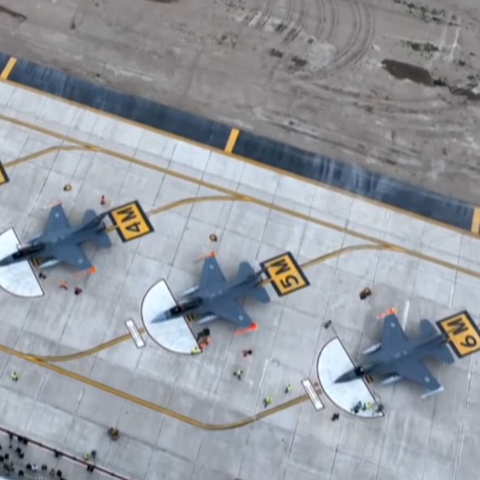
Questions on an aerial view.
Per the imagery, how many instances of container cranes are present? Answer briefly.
zero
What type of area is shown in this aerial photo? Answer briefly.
airport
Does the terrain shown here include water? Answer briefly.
No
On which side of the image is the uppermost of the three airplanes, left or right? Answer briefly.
left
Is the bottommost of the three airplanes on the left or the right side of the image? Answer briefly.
right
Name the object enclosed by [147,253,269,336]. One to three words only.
airplane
